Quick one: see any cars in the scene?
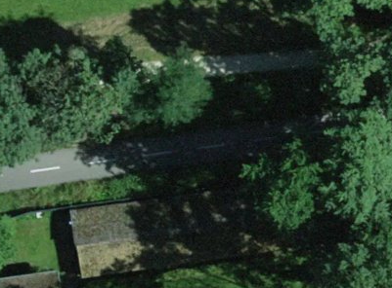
No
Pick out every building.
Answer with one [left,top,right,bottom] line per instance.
[0,271,61,288]
[70,188,284,282]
